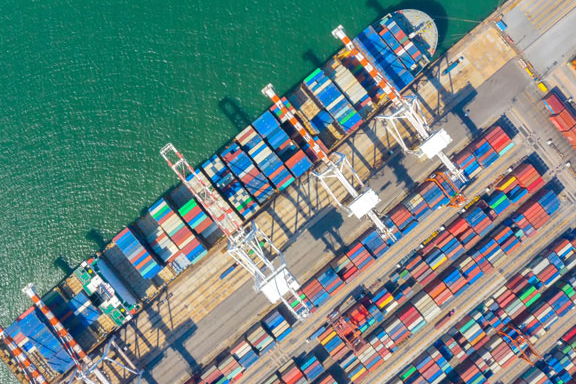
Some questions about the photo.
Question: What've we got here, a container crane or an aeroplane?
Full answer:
The one in the frame is a container crane.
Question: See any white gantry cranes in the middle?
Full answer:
Yes, I can see a white gantry crane in the middle.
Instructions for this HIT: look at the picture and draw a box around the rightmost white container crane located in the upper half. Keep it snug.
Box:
[333,24,470,184]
